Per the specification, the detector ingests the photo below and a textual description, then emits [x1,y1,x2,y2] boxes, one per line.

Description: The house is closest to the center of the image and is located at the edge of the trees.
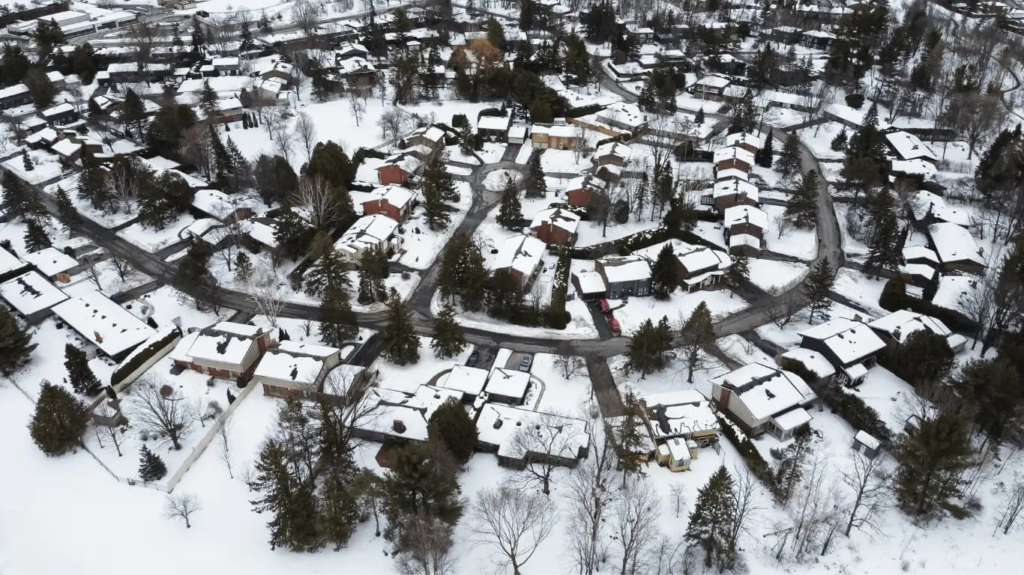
[490,238,546,292]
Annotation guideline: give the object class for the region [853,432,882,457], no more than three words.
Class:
shed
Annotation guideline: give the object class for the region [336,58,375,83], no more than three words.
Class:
house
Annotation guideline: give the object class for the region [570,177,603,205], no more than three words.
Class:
house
